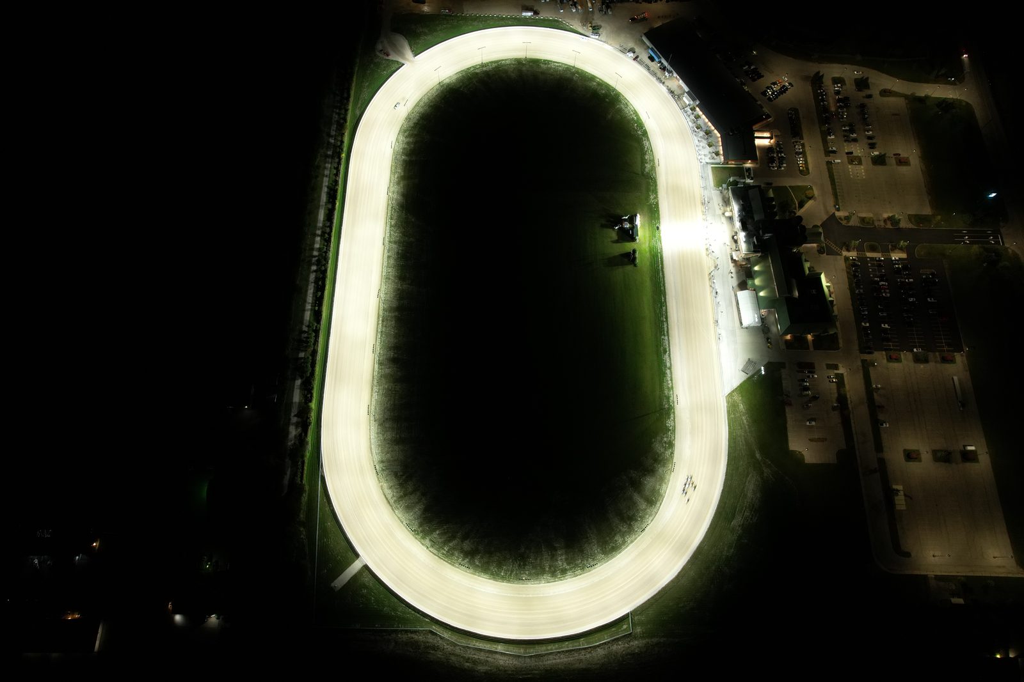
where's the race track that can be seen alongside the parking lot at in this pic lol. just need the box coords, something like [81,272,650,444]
[324,28,724,636]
